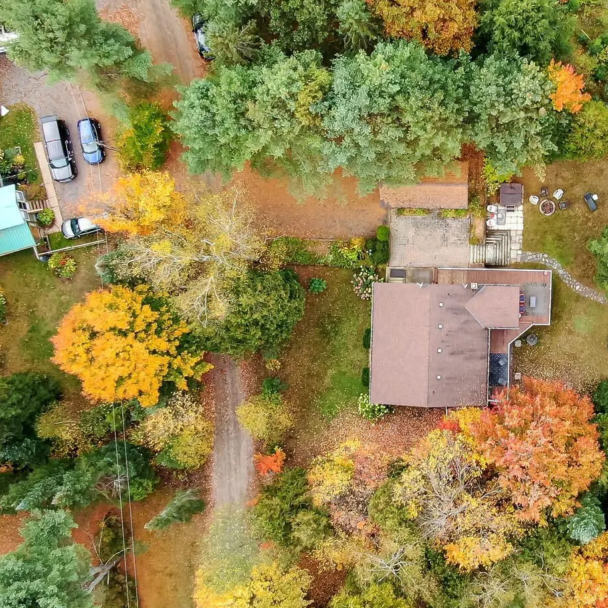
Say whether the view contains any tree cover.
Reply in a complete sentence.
Yes, there is tree cover in the image.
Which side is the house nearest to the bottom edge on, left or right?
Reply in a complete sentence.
You can find the house nearest to the bottom edge on the right side of the picture.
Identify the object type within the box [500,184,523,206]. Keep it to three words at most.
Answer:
shed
